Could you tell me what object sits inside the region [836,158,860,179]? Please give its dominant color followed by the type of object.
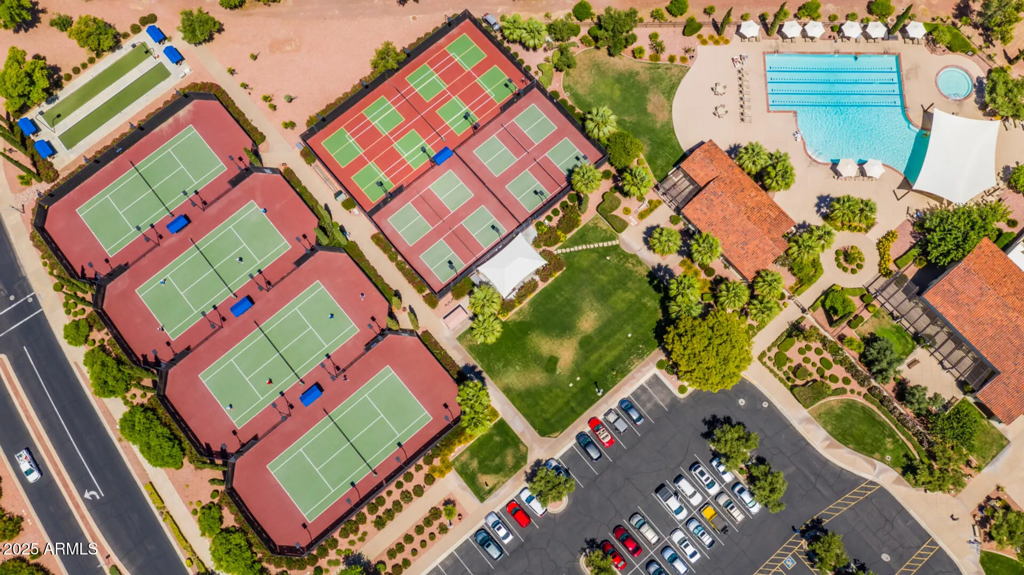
white umbrella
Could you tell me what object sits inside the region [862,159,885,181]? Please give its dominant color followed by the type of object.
white umbrella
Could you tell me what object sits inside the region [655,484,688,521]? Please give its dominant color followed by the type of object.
white vehicle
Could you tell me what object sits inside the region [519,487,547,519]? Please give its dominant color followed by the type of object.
white car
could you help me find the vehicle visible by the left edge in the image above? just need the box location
[13,448,41,483]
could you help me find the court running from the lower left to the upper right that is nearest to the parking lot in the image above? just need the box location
[233,335,461,554]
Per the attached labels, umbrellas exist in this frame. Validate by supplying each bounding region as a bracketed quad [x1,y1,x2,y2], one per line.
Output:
[803,20,825,41]
[780,20,803,40]
[862,159,885,181]
[865,21,888,40]
[738,20,761,40]
[839,20,863,40]
[904,20,926,41]
[836,158,860,179]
